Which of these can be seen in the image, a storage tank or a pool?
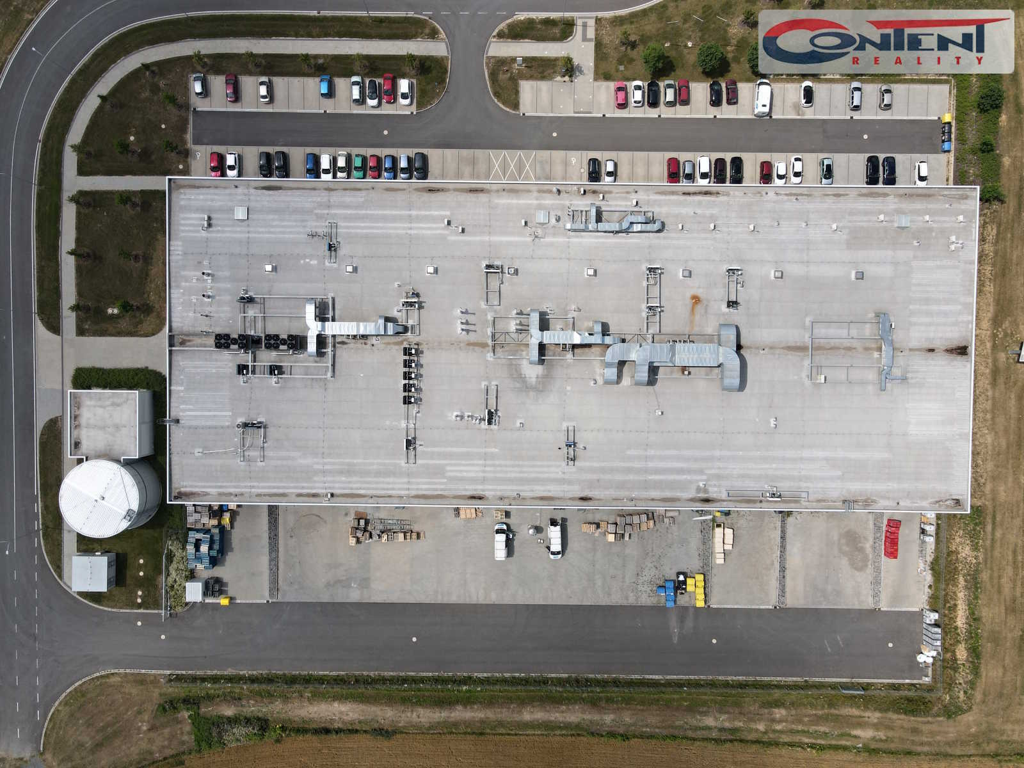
storage tank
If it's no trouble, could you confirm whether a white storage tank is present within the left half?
Yes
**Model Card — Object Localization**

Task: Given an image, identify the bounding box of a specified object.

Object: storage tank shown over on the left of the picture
[59,457,162,538]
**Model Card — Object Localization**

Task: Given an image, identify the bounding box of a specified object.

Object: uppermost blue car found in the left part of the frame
[319,76,332,99]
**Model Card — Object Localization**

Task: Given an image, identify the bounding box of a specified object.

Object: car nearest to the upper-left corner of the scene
[192,73,207,98]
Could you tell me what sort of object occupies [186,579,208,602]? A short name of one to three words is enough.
shed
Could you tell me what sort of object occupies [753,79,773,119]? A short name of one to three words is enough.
vehicle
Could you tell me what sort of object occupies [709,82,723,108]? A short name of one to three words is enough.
car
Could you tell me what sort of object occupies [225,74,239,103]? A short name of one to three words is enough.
car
